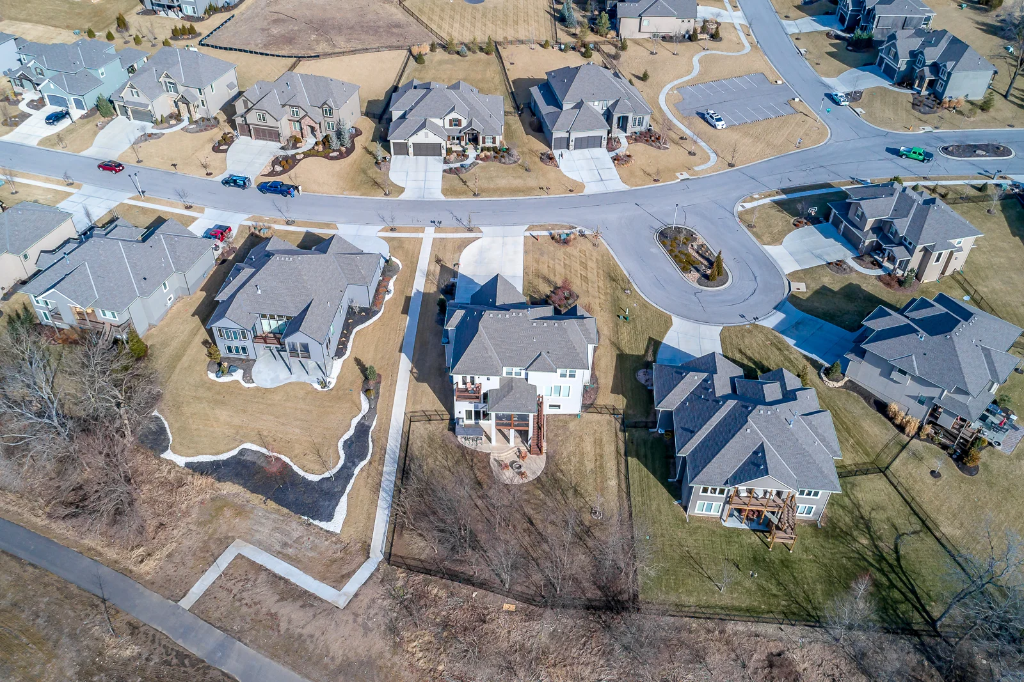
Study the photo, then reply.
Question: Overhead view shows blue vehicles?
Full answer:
Yes, the frame does contain a blue vehicle.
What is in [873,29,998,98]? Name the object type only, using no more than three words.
house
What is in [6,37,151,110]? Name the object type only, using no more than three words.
house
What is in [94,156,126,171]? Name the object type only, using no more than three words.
car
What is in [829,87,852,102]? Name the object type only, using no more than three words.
vehicle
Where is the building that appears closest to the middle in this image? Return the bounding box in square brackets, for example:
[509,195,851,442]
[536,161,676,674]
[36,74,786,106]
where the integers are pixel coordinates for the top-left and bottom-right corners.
[440,272,599,453]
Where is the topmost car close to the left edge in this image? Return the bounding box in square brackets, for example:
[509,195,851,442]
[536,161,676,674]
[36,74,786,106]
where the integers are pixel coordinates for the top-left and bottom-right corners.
[43,105,71,122]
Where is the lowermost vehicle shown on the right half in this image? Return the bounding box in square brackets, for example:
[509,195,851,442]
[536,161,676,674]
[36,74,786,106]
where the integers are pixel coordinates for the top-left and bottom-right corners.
[899,145,936,160]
